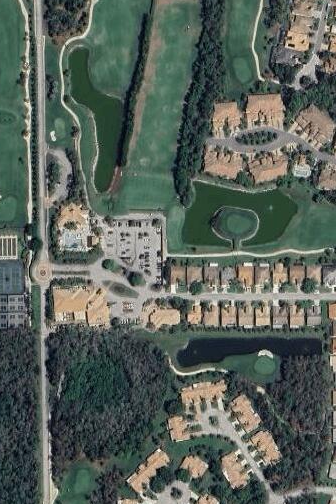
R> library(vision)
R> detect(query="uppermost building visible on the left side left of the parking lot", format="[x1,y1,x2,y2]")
[58,204,87,230]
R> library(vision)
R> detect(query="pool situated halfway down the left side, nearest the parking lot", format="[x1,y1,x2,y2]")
[60,231,89,249]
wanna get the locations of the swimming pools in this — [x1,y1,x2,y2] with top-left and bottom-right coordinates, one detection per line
[294,163,311,176]
[60,231,89,249]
